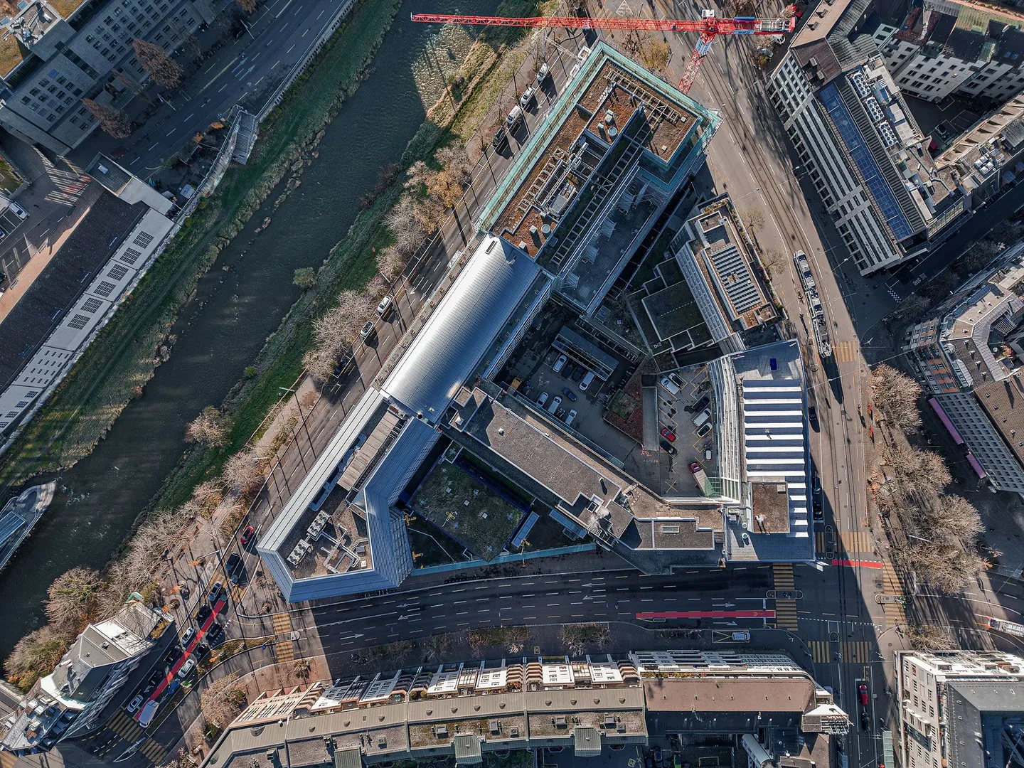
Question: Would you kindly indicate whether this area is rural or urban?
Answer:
urban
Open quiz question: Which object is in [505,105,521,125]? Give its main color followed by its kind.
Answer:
white vehicle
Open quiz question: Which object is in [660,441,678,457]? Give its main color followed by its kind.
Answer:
black car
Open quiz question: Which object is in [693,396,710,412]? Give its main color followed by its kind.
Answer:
black car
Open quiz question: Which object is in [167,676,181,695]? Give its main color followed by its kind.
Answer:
blue car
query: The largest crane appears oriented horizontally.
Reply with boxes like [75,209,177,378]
[410,6,796,94]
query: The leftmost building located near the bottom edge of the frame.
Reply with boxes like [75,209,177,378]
[1,584,190,752]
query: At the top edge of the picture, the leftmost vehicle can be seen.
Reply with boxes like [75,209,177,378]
[231,25,247,41]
